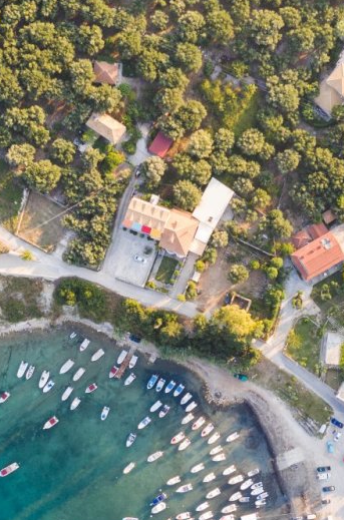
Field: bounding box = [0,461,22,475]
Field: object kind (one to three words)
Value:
boat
